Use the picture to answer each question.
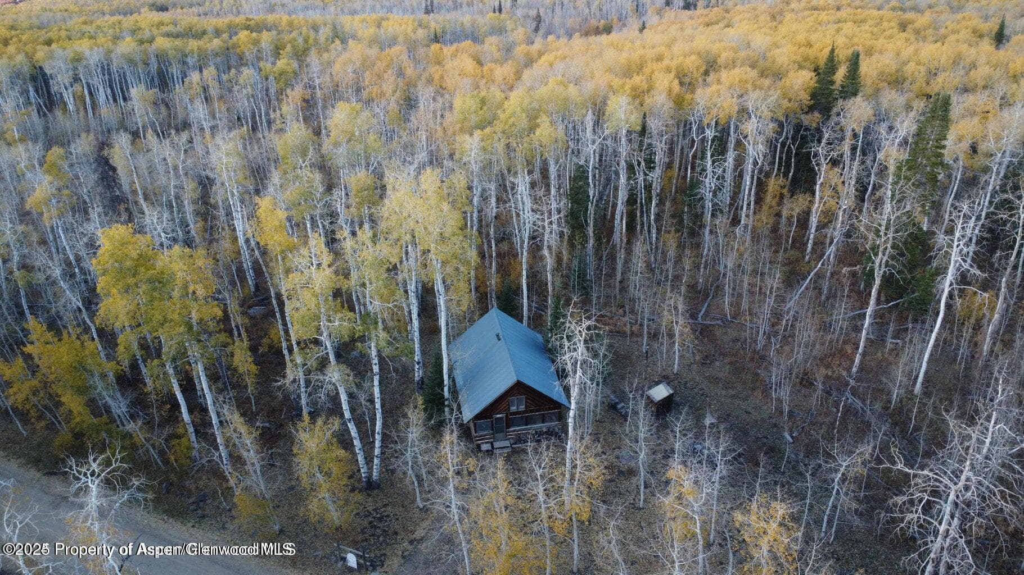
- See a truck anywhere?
No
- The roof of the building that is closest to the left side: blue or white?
blue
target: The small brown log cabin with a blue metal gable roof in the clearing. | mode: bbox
[451,306,569,450]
